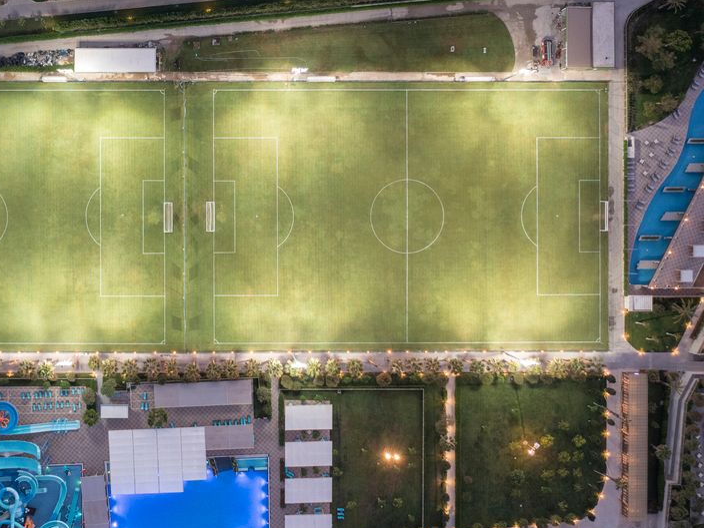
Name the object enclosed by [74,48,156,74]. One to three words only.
shed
